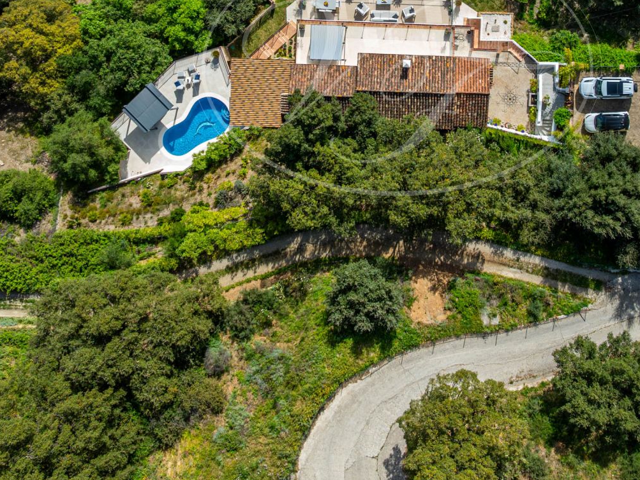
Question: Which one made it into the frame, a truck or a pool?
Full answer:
The image shows a pool.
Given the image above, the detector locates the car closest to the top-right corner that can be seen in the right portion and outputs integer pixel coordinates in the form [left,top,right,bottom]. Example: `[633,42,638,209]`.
[579,74,640,103]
